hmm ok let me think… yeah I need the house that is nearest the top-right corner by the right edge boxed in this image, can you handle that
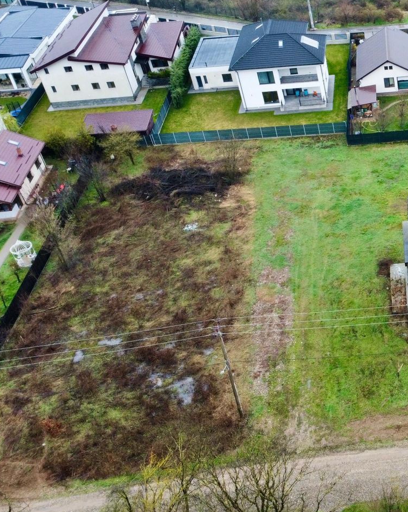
[356,24,408,94]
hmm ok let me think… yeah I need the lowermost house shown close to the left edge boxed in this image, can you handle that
[0,126,48,225]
